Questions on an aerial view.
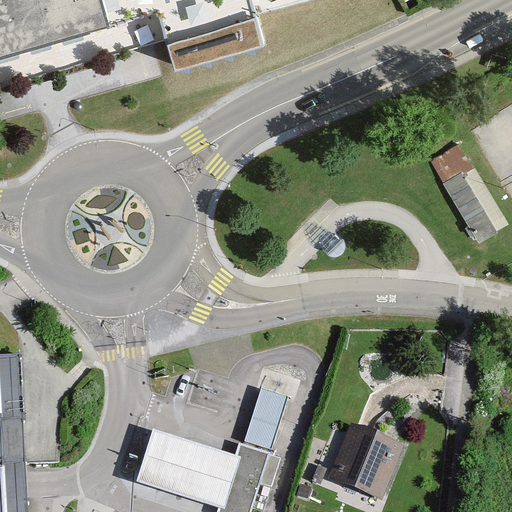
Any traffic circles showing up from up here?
Yes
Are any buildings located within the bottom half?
Yes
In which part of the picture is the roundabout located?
left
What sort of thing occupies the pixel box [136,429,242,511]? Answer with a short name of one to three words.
building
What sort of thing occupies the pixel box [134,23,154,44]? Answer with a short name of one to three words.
umbrella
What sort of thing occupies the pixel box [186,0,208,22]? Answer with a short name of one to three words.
umbrella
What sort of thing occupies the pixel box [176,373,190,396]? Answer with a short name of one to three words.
car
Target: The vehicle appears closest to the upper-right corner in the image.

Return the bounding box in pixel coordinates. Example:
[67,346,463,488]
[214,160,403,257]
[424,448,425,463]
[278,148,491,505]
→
[464,33,486,50]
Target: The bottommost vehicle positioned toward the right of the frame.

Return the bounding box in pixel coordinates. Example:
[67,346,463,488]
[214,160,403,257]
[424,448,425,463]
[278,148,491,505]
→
[300,95,324,112]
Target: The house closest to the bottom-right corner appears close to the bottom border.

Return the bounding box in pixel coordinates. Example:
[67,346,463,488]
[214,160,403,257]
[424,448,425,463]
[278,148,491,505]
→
[328,424,404,500]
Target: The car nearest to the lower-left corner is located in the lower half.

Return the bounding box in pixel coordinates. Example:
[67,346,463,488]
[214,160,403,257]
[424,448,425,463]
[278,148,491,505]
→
[124,452,137,475]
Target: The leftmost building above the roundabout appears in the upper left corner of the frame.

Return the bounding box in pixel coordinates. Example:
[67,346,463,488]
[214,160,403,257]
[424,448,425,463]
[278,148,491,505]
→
[0,0,107,64]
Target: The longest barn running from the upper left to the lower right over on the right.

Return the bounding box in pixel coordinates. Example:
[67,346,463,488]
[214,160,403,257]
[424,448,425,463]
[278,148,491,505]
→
[432,144,509,243]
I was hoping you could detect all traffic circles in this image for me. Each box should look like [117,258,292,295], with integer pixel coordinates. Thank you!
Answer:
[21,140,198,317]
